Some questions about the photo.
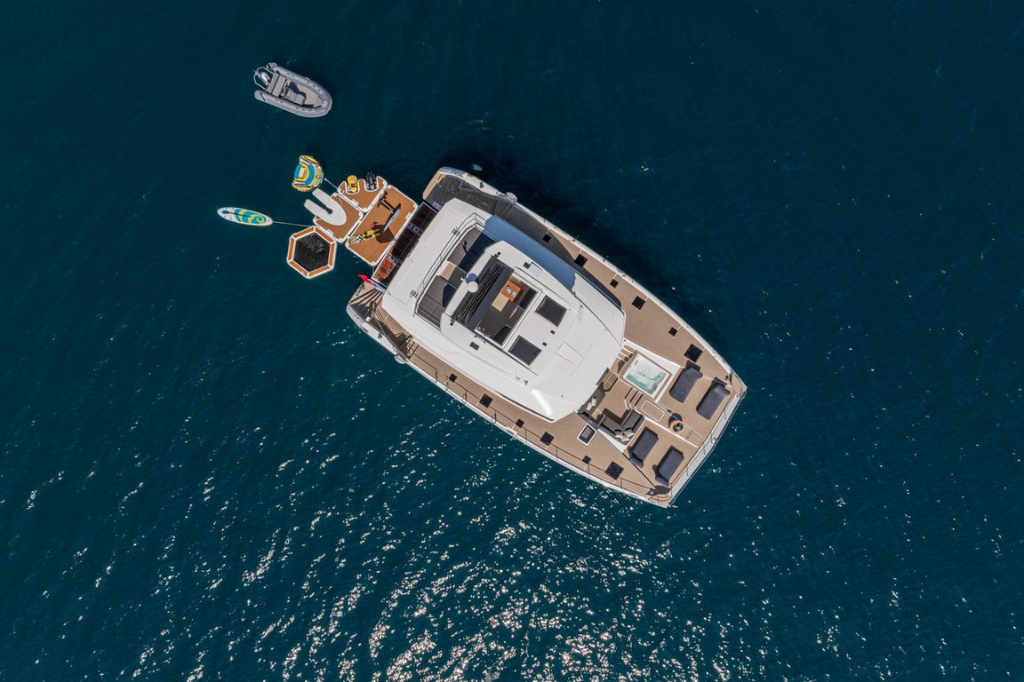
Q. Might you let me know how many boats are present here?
2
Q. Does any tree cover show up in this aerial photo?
No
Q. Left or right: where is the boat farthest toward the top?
left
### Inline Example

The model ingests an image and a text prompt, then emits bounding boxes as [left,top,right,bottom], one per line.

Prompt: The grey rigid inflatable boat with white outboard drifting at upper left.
[253,63,332,119]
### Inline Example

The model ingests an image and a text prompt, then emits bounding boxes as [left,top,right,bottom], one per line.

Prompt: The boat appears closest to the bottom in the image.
[350,168,749,507]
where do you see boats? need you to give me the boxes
[350,168,749,507]
[253,63,332,119]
